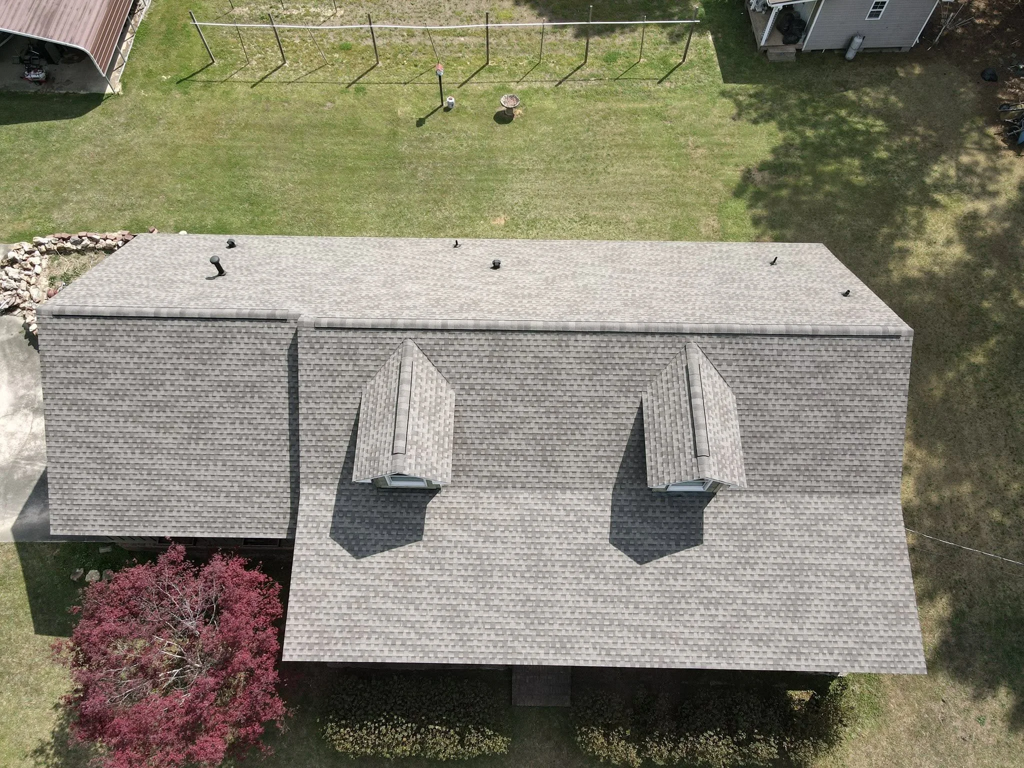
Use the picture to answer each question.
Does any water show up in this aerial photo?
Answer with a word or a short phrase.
No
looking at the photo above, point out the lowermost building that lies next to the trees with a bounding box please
[37,234,927,708]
